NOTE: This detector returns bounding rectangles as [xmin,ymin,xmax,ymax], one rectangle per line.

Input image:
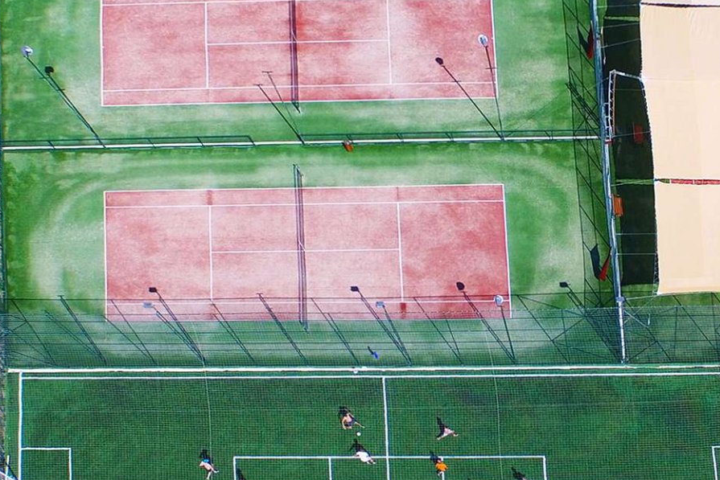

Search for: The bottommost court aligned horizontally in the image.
[2,139,618,367]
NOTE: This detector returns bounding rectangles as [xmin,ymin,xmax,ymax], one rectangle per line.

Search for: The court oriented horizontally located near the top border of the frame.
[0,0,599,146]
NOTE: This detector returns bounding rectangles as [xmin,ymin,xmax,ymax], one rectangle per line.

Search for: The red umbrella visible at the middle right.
[598,255,610,282]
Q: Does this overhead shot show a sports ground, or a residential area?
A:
sports ground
